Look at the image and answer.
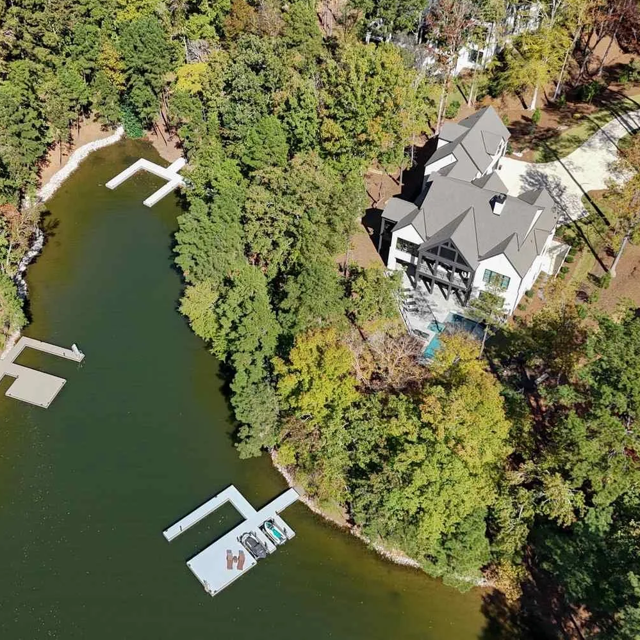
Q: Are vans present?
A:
No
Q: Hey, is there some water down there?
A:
Yes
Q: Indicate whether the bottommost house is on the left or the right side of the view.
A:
right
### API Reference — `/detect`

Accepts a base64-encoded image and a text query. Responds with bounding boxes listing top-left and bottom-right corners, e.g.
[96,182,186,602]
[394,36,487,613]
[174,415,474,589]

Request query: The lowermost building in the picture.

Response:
[379,101,568,314]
